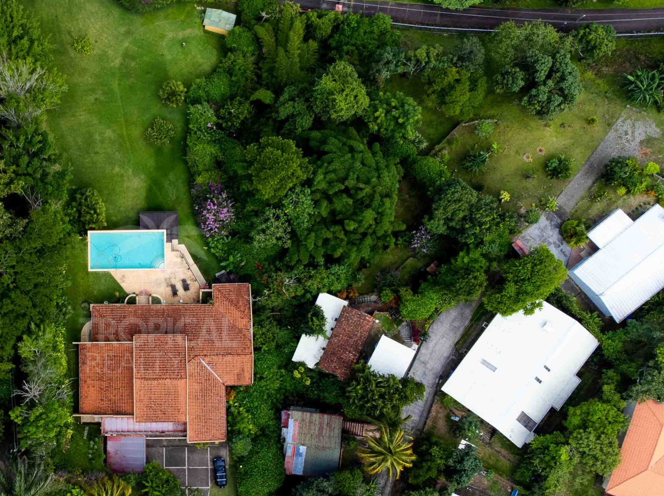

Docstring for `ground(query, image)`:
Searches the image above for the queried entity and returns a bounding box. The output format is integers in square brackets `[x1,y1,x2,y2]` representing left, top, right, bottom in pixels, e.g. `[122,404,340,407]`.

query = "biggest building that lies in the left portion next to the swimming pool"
[72,283,254,444]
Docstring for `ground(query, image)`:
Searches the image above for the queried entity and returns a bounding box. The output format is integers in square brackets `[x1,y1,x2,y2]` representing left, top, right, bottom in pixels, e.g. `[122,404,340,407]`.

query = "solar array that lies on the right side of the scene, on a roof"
[516,412,537,433]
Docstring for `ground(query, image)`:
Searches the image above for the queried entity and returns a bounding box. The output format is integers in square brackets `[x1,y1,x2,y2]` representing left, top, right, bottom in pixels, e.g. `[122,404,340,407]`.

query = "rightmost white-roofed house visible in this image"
[563,204,664,324]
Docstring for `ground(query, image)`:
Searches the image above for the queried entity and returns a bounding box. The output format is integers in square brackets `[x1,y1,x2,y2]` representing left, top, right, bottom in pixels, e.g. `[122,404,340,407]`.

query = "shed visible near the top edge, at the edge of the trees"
[203,8,237,36]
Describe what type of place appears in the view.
residential area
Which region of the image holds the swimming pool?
left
